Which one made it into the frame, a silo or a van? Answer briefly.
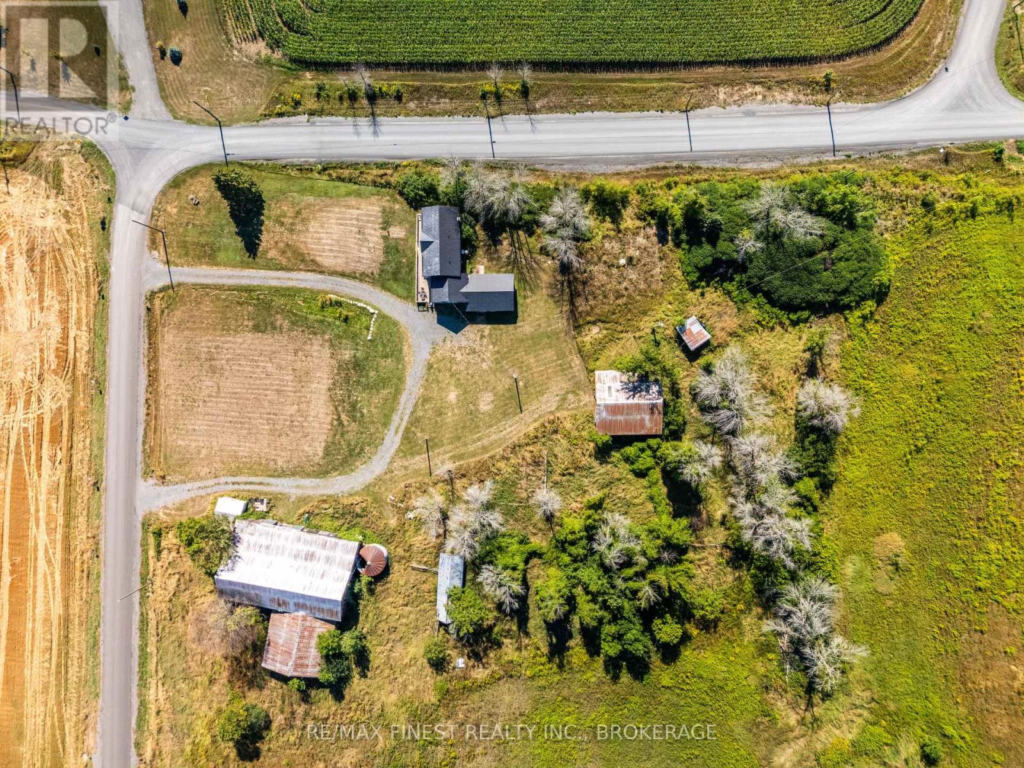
silo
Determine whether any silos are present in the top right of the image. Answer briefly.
No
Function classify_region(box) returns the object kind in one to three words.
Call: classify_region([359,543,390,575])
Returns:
silo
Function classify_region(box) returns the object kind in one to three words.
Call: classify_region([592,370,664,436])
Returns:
barn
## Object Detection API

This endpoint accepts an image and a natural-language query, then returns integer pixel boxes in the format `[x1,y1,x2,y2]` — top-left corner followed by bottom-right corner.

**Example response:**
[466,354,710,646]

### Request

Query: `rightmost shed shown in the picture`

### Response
[674,315,711,350]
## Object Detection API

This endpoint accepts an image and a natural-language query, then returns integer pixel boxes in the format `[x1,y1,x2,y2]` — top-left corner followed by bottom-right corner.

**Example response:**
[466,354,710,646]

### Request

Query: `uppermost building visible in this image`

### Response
[415,203,515,312]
